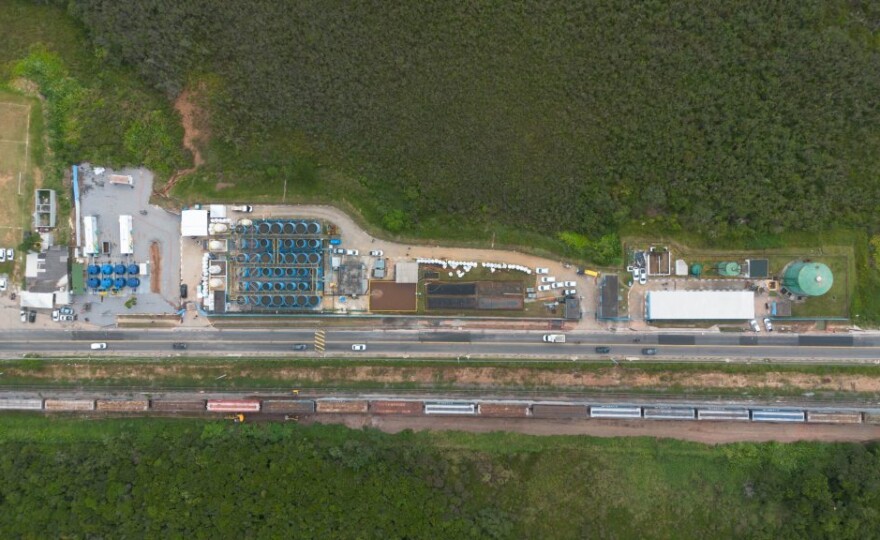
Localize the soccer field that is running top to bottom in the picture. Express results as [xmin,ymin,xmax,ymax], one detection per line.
[0,103,31,242]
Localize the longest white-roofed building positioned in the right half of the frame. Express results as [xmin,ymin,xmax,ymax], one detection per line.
[645,288,755,319]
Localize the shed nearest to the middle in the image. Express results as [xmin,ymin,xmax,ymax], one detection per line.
[396,263,419,283]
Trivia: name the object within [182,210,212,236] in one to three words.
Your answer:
building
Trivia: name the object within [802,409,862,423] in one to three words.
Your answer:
rail car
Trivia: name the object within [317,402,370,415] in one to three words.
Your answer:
rail car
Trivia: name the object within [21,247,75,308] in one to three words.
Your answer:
house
